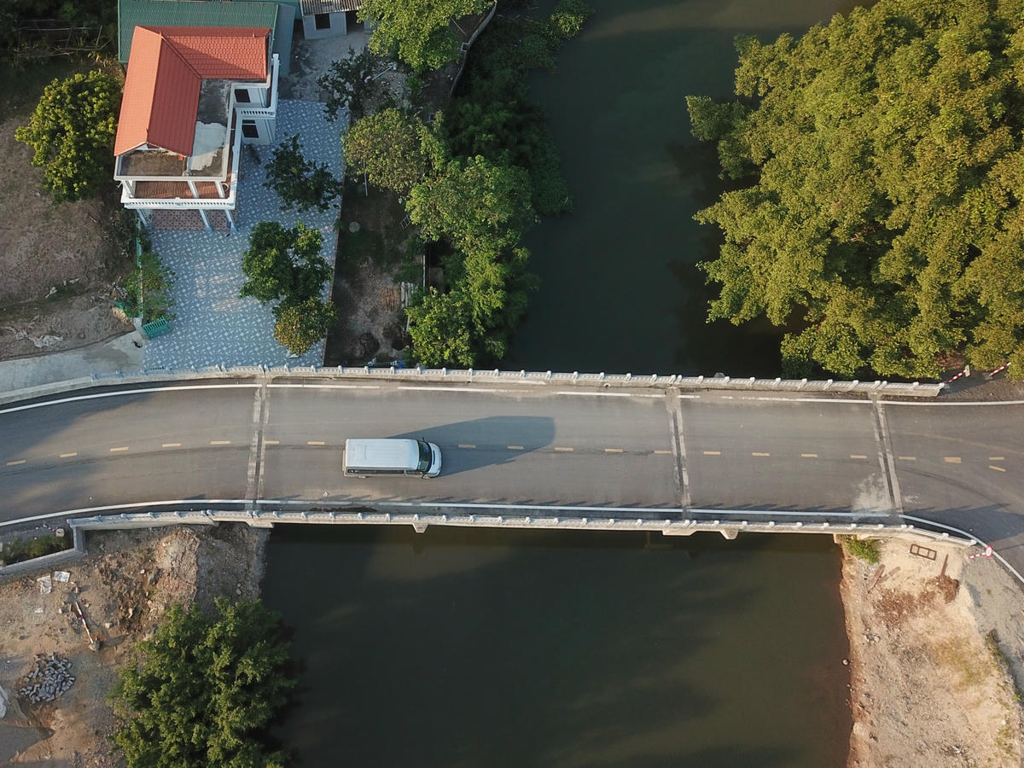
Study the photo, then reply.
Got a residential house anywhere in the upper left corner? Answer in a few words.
Yes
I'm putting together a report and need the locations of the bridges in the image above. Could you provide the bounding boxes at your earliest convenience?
[68,363,975,549]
